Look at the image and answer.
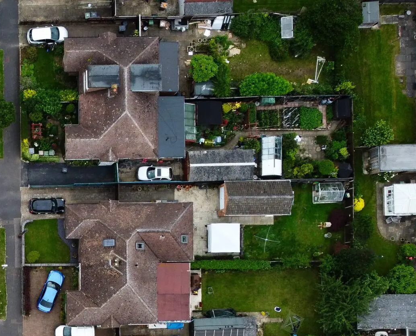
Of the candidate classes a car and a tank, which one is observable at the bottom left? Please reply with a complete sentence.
What appears at the bottom left is a car.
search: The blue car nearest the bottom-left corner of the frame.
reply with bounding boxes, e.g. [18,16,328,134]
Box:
[37,270,64,313]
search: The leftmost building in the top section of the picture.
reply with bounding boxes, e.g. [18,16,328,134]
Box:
[63,32,196,163]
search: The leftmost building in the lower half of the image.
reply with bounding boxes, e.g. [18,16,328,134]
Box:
[65,199,194,328]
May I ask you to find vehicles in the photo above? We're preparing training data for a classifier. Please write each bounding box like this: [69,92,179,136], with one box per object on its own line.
[137,164,173,183]
[55,325,96,336]
[29,196,66,215]
[37,270,64,313]
[28,24,67,52]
